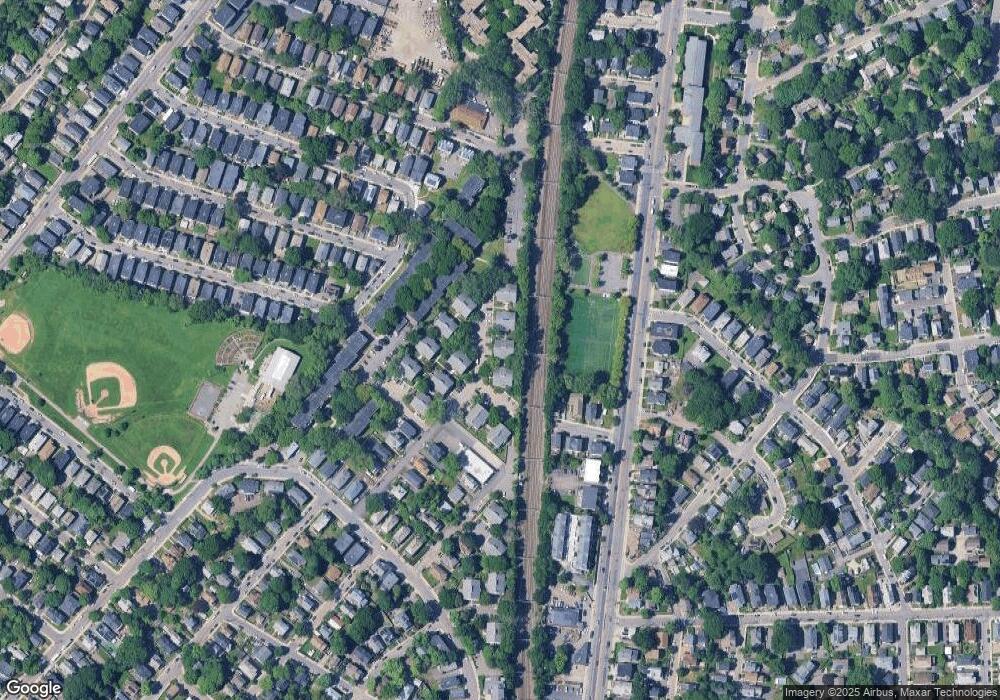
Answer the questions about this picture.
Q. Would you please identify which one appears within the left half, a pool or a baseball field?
baseball field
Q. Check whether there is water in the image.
No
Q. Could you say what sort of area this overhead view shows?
residential area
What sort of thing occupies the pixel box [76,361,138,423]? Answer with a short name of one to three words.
baseball field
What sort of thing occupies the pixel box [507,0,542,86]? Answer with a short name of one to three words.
building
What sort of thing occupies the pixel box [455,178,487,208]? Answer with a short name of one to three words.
building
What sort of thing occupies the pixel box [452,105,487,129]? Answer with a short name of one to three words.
house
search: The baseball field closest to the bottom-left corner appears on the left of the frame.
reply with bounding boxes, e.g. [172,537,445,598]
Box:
[144,445,186,486]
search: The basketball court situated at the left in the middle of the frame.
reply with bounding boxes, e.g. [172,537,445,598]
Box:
[189,381,222,421]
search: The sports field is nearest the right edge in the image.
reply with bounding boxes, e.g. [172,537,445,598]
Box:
[566,290,622,374]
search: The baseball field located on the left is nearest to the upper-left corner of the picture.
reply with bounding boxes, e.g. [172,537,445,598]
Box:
[0,312,33,354]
